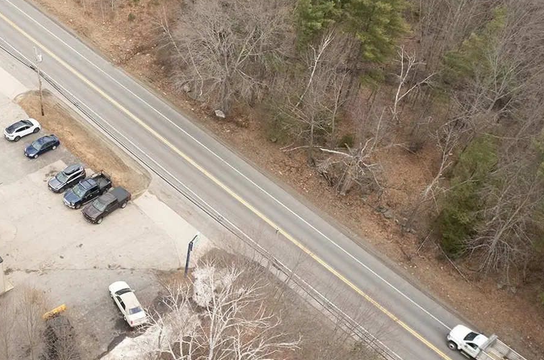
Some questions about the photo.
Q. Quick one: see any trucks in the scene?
Yes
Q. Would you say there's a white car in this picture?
Yes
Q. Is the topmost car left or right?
left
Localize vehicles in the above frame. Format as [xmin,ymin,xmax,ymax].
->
[23,133,64,158]
[443,325,524,360]
[82,185,132,223]
[44,161,86,193]
[61,169,114,209]
[2,117,43,141]
[110,279,149,328]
